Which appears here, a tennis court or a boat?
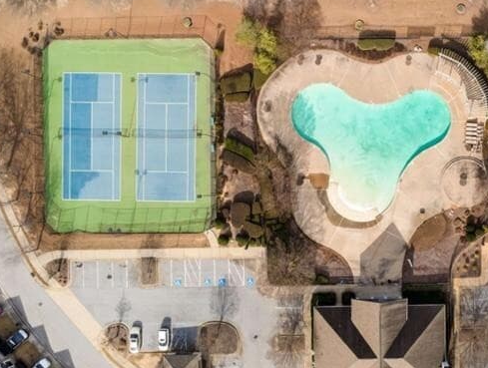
tennis court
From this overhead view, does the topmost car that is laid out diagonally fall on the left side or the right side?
left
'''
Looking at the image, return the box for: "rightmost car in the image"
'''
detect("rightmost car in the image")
[155,328,169,352]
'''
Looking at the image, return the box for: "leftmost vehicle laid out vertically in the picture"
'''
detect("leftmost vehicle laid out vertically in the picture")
[127,328,140,354]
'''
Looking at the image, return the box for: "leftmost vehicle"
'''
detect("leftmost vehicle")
[0,328,27,350]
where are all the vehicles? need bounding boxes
[0,328,27,350]
[29,357,50,368]
[127,328,140,354]
[155,328,169,352]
